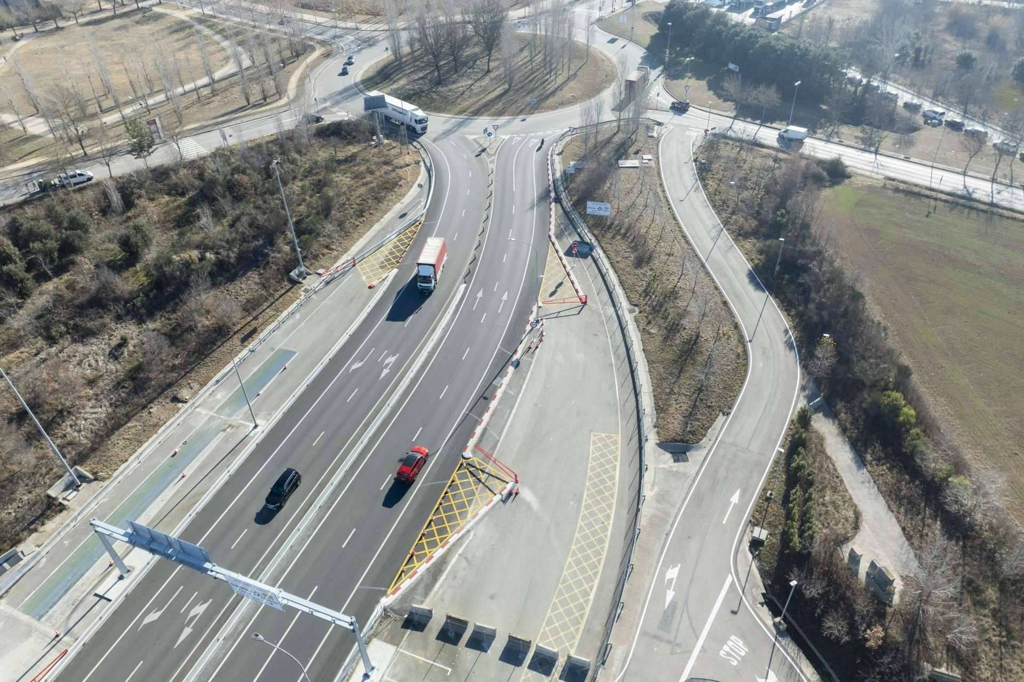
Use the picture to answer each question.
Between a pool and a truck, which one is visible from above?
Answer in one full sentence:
There is a truck in the scene.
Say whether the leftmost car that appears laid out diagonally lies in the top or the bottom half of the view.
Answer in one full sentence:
The leftmost car that appears laid out diagonally is in the bottom half of the image.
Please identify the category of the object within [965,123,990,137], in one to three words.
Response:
car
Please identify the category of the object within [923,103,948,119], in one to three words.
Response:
vehicle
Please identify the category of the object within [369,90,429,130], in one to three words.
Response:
truck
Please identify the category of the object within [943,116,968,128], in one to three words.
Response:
vehicle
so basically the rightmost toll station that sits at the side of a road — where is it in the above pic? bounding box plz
[340,148,641,682]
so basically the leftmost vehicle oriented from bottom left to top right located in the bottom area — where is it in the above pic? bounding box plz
[263,468,301,509]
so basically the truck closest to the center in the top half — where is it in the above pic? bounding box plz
[414,236,449,293]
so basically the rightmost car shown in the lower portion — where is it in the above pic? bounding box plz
[393,449,425,484]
